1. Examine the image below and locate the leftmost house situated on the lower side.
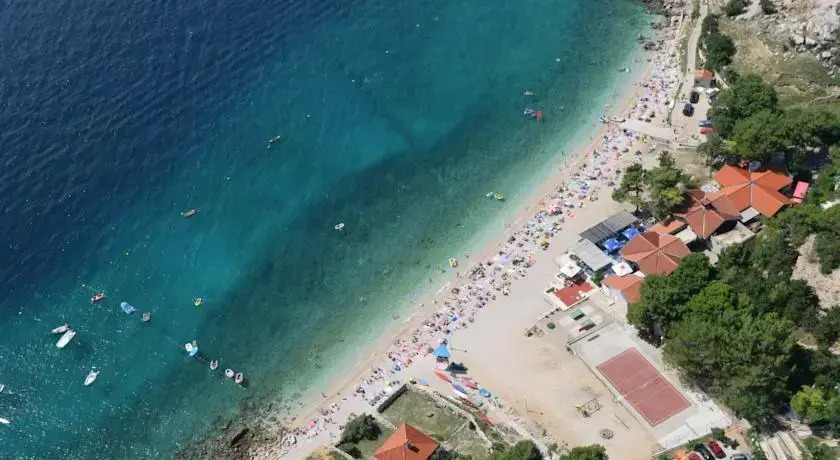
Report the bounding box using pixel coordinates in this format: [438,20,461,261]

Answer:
[373,422,442,460]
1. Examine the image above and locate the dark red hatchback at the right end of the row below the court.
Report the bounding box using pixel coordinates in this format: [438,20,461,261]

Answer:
[707,440,728,459]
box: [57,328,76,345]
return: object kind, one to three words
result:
boat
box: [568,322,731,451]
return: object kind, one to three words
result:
sports court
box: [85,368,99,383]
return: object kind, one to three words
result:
boat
